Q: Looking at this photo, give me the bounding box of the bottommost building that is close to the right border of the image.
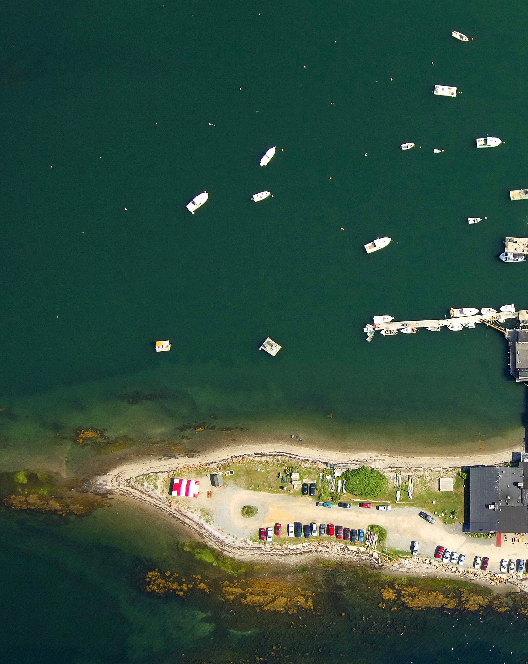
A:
[462,462,528,547]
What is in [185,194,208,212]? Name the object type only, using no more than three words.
boat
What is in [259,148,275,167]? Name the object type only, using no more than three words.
boat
